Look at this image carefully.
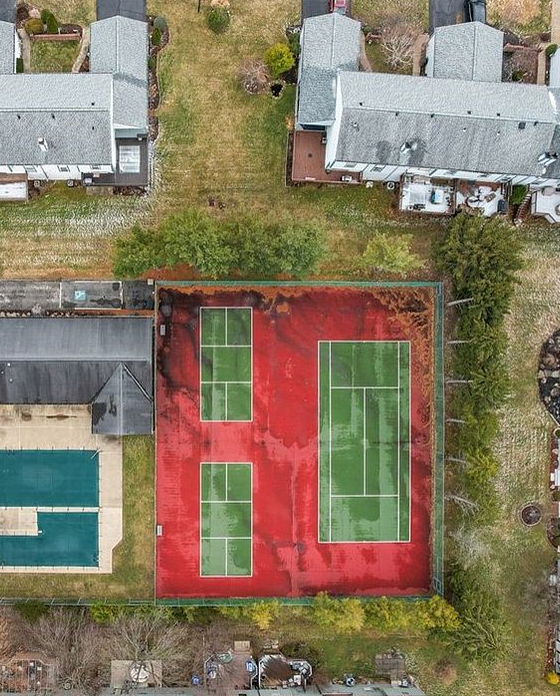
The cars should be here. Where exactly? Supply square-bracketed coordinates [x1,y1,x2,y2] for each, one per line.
[463,0,487,23]
[328,0,348,16]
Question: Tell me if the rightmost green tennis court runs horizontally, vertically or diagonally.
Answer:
vertically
